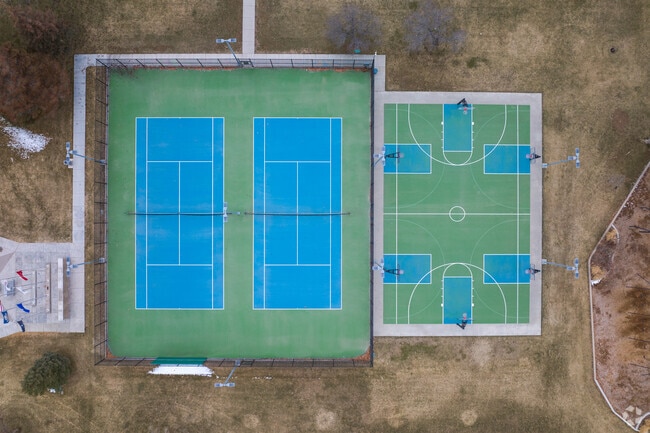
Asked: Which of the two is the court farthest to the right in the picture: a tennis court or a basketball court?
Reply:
basketball court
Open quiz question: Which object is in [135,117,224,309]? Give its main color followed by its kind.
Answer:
blue tennis court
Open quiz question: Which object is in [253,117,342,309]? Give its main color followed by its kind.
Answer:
blue tennis court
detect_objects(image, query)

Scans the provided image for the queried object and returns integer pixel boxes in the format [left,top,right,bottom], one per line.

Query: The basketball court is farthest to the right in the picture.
[384,104,531,324]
